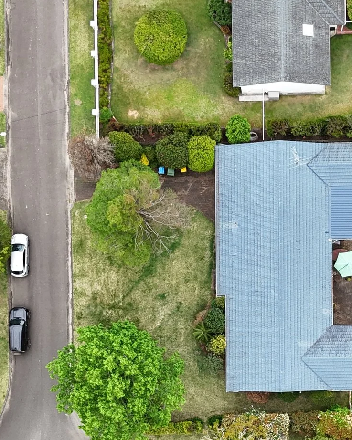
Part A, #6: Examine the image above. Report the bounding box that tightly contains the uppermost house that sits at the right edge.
[230,0,345,88]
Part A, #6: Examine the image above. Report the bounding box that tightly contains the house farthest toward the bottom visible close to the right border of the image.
[216,140,352,393]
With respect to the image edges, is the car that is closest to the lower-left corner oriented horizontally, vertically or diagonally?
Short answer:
vertically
